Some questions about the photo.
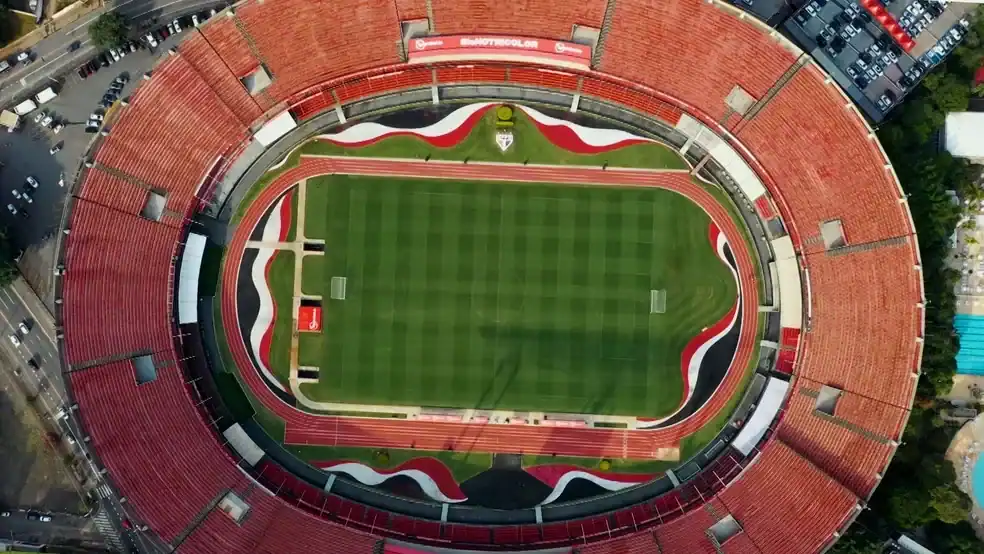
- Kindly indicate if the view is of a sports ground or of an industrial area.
sports ground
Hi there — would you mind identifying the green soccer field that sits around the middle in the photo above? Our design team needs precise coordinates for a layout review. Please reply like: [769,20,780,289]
[236,174,742,428]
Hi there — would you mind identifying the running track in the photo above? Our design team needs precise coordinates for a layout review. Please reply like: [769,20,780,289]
[221,153,758,462]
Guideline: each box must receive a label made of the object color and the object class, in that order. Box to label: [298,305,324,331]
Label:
red tent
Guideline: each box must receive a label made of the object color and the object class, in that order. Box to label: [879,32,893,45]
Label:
black vehicle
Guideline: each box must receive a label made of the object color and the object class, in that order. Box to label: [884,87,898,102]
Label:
black vehicle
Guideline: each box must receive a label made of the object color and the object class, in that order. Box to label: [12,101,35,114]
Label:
white vehicle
